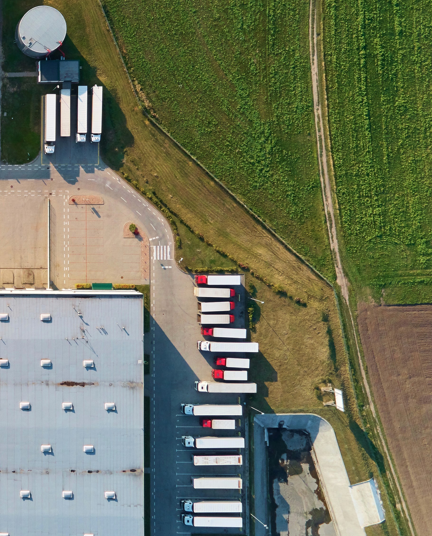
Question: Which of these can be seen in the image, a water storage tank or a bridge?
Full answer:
Visible in the photo is a water storage tank.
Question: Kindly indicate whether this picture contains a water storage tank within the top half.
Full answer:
Yes, a water storage tank appears within the top half.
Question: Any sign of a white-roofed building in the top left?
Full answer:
No, no white-roofed building appears in the top left.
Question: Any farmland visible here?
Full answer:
Yes, farmland can be seen from above here.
